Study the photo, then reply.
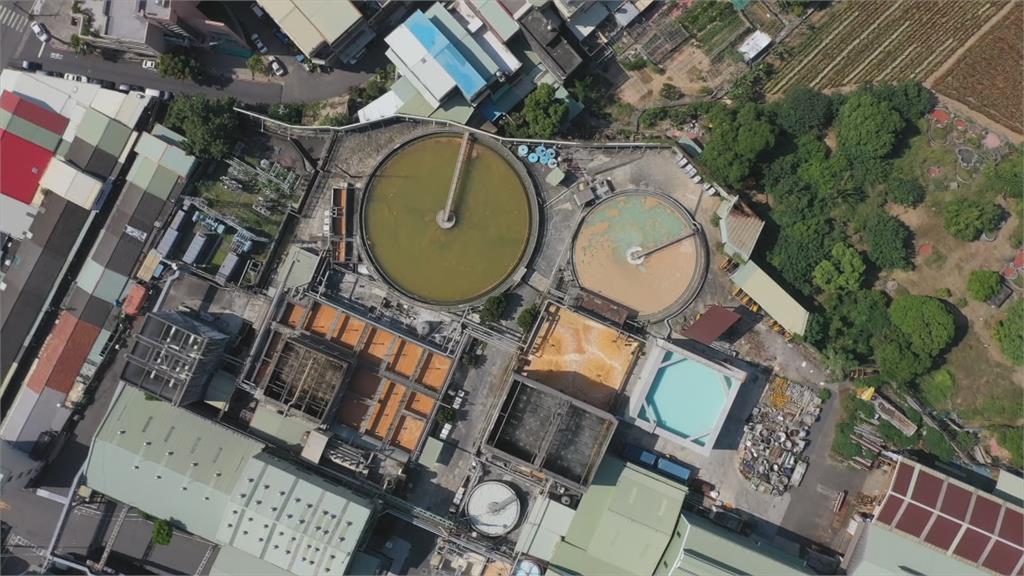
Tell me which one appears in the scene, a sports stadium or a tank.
tank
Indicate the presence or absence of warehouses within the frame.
Yes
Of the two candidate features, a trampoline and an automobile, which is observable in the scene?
automobile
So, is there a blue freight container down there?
Yes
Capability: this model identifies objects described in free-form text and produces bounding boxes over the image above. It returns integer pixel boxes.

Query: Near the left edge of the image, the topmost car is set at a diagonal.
[30,20,49,41]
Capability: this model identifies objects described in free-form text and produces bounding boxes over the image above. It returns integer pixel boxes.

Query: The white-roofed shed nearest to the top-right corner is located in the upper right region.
[734,31,772,65]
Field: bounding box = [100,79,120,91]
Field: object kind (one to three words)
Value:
vehicle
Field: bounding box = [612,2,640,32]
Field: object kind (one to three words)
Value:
shed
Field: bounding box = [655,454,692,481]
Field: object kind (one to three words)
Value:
shipping container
